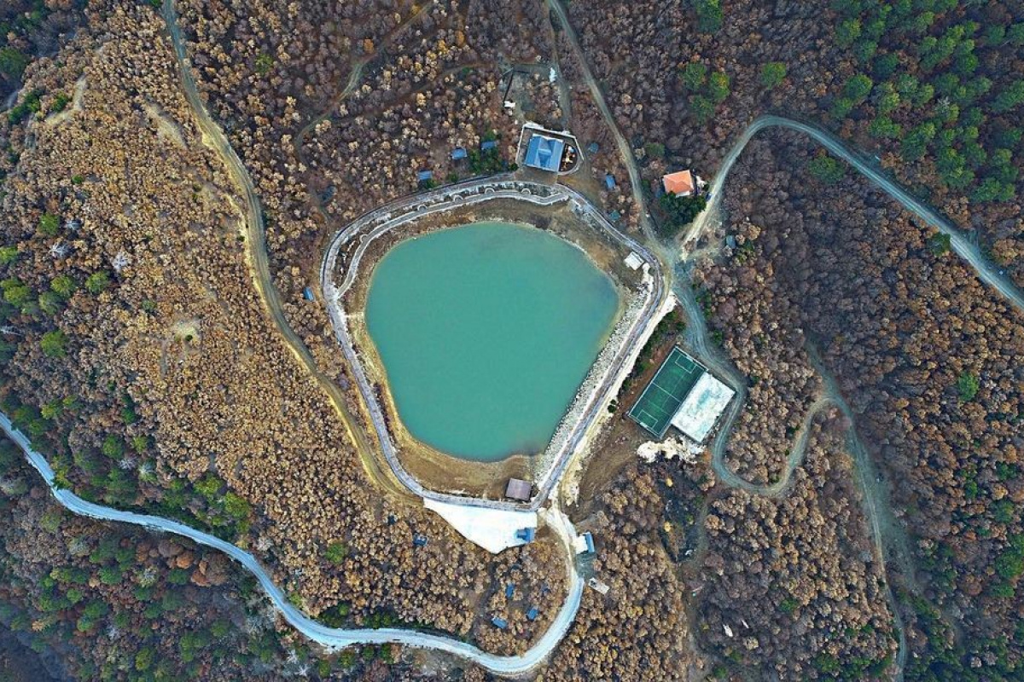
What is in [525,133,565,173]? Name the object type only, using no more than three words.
house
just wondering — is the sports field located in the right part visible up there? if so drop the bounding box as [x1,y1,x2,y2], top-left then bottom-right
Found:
[627,345,709,438]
